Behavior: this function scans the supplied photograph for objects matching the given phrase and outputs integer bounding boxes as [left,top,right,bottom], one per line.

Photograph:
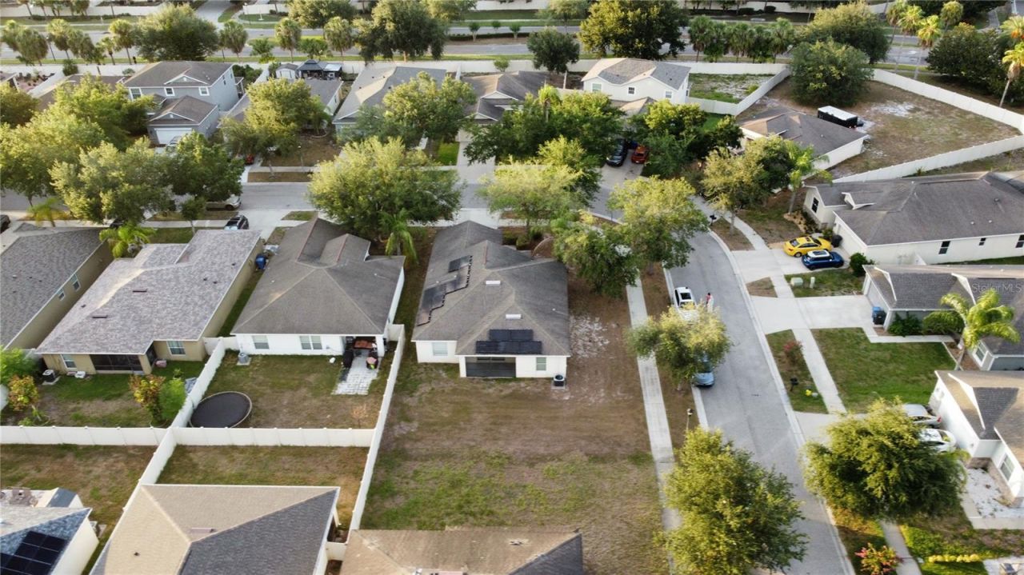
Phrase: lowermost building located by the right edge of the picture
[927,371,1024,506]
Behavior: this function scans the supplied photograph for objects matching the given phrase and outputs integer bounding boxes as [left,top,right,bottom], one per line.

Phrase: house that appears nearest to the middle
[411,218,570,380]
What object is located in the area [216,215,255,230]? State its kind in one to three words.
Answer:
car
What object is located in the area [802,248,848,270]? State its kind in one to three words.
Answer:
car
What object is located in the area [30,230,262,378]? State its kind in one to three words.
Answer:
house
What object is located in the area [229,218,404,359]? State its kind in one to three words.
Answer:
house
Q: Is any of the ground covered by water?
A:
No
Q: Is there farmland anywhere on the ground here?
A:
No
